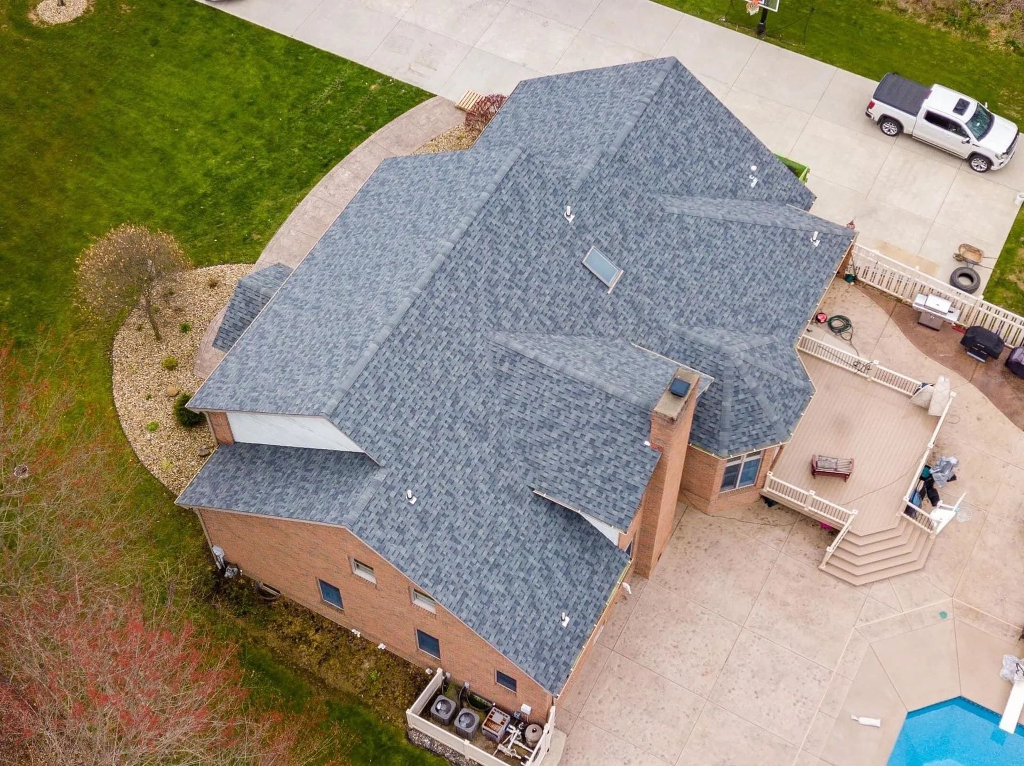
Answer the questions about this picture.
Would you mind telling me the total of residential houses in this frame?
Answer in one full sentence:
There is 1 residential house in the image.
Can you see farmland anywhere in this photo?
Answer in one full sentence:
No, no farmland is visible.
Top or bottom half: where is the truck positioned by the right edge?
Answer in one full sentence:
The truck positioned by the right edge sits in the top half of the picture.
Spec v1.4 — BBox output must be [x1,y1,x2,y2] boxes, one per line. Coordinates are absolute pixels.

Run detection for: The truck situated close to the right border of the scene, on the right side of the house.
[862,70,1024,169]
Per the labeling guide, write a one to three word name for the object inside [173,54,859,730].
house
